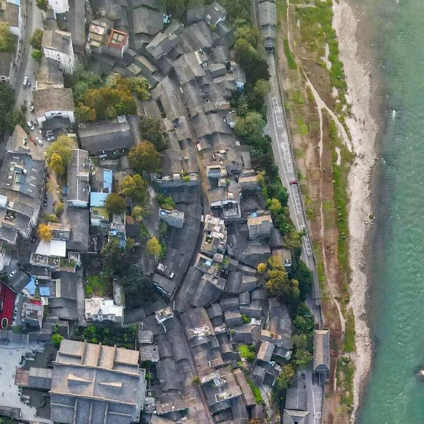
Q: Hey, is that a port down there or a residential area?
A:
residential area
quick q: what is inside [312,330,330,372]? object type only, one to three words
building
